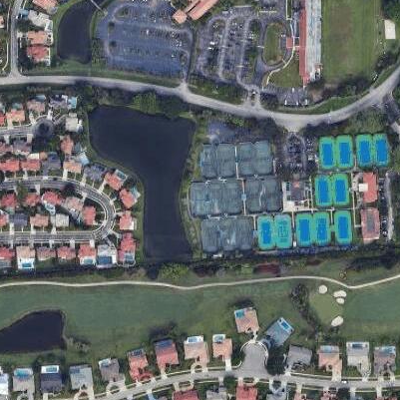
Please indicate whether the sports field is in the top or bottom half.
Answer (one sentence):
The top half of the photo is where the sports field is.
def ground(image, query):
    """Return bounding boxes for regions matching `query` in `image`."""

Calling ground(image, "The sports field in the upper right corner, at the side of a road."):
[323,0,380,82]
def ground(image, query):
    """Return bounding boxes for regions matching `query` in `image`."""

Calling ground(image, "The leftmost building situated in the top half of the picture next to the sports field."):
[286,0,323,84]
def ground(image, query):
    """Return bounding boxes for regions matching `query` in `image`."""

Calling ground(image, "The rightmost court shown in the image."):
[374,134,391,169]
